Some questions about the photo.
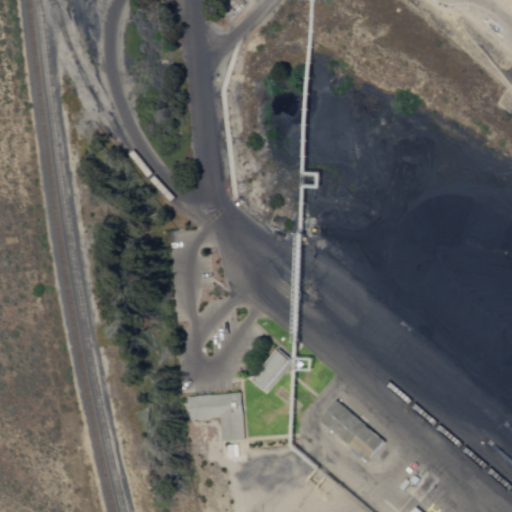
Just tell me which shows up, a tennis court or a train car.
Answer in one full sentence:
This aerial view contains a train car.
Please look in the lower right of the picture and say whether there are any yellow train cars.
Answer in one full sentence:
No, no yellow train car appears in the lower right of the picture.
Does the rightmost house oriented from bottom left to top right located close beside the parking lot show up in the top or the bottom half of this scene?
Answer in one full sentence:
It is in the bottom half that the rightmost house oriented from bottom left to top right located close beside the parking lot appears.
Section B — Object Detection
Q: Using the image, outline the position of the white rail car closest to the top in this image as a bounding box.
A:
[130,152,152,176]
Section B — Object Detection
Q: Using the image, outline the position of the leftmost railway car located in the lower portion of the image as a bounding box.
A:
[386,381,412,405]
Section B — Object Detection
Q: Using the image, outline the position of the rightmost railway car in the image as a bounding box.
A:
[487,468,512,492]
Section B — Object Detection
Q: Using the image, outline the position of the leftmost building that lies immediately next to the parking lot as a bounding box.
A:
[188,393,245,441]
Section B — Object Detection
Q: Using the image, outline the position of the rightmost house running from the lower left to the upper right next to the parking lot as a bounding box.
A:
[254,350,290,392]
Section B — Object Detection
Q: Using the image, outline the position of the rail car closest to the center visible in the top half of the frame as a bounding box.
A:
[151,176,174,200]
